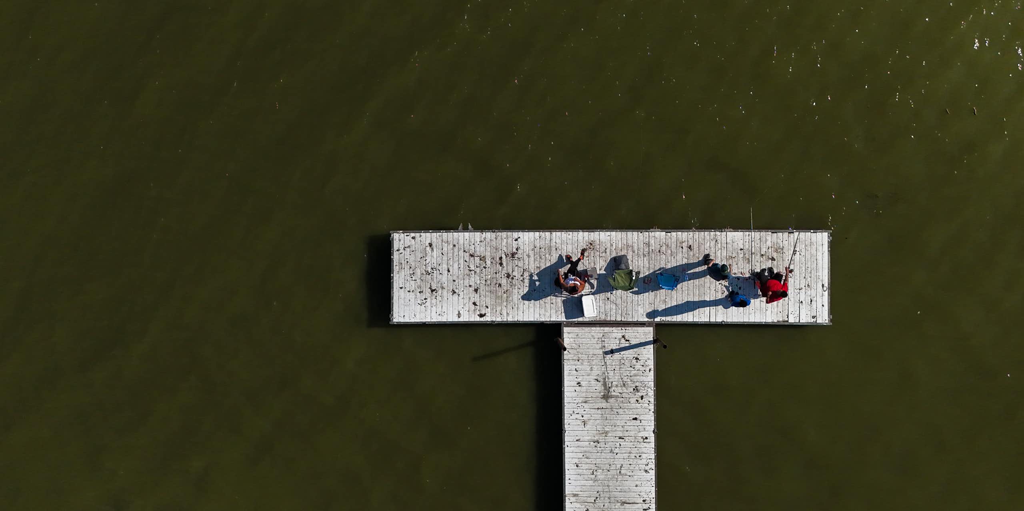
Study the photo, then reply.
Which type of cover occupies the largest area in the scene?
water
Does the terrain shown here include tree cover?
No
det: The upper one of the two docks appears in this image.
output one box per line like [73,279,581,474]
[390,223,832,325]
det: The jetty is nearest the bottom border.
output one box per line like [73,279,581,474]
[555,324,661,511]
